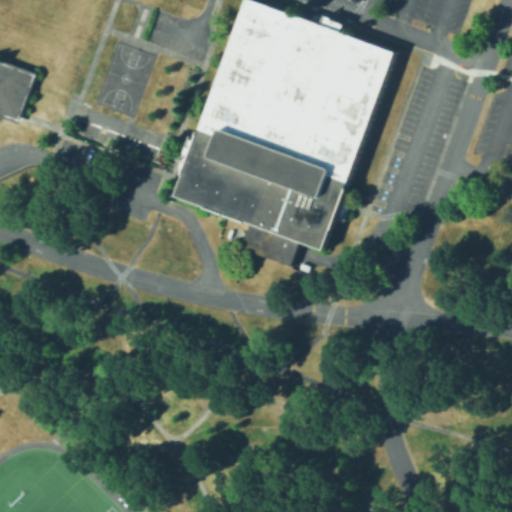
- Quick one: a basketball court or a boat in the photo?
basketball court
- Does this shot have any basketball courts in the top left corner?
Yes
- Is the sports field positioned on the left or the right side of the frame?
left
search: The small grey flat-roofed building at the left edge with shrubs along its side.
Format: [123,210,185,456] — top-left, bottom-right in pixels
[0,62,36,122]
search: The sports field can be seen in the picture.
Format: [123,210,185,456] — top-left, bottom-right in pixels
[0,442,132,512]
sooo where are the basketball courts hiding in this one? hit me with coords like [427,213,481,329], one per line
[98,42,157,118]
